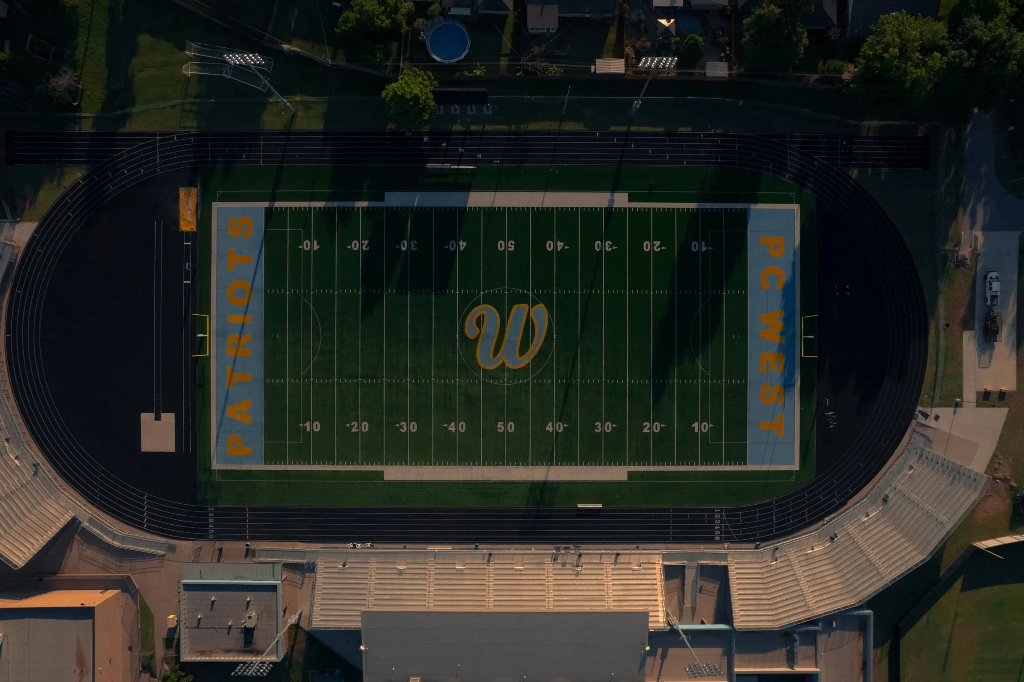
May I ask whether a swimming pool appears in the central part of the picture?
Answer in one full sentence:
No, there is no swimming pool in the central part of the picture.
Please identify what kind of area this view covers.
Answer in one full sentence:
This image shows a sports ground.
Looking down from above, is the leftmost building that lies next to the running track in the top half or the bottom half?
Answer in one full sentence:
It is in the bottom half that the leftmost building that lies next to the running track appears.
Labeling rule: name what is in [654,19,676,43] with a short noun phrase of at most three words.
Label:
gazebo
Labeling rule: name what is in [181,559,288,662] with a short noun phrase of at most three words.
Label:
building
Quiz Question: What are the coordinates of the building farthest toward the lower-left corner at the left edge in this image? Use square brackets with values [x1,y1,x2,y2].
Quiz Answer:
[0,590,121,682]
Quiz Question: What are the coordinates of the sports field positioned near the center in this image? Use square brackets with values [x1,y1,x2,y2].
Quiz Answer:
[196,166,817,507]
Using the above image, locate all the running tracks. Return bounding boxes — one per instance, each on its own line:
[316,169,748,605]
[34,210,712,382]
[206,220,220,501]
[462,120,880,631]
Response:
[4,128,929,544]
